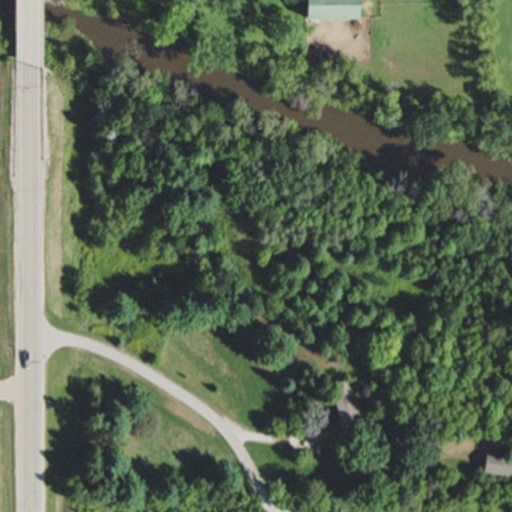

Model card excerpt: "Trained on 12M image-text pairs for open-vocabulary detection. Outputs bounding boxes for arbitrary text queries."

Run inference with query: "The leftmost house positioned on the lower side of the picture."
[331,382,360,424]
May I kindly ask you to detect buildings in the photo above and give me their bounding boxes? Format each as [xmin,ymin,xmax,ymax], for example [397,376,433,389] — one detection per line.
[309,0,362,19]
[484,453,512,475]
[331,382,360,424]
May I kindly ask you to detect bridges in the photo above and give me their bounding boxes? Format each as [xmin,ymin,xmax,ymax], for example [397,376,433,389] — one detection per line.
[16,0,48,69]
